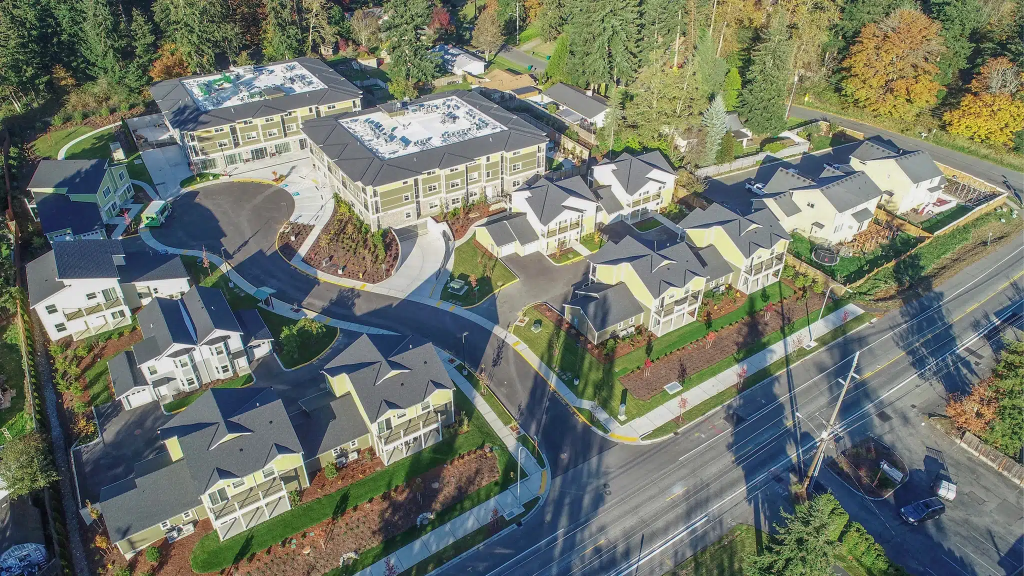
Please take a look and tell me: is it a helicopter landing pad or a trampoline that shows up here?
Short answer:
trampoline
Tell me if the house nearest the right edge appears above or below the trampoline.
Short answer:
above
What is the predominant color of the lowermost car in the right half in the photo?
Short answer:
blue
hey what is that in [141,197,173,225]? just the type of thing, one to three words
vehicle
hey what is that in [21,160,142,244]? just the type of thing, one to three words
building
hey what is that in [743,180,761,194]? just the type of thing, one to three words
vehicle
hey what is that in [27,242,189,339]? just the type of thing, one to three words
house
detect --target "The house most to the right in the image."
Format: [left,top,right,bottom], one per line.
[831,143,944,211]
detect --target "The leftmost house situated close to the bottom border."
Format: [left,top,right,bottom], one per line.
[95,384,311,558]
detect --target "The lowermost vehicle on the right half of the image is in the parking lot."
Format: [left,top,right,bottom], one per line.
[901,495,957,525]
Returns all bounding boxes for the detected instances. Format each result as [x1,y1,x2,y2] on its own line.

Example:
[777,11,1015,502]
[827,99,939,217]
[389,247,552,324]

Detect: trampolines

[811,237,845,266]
